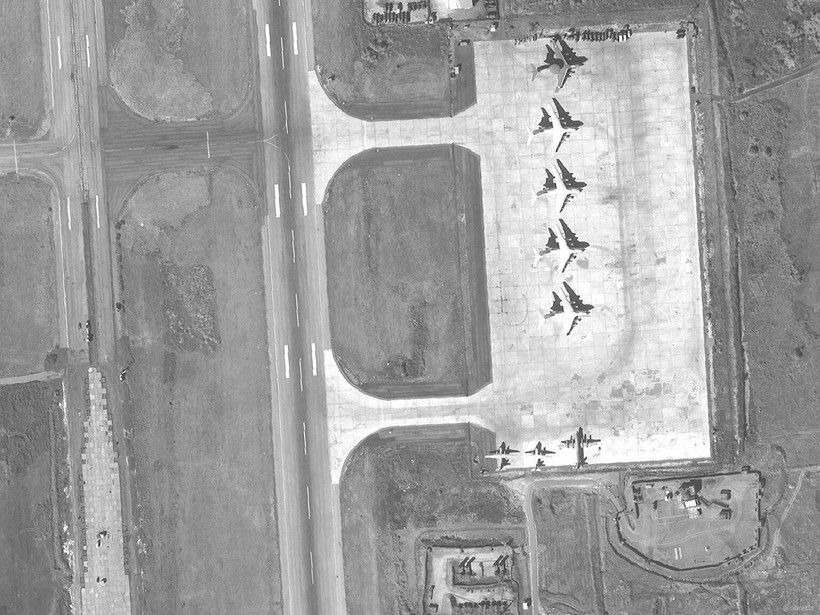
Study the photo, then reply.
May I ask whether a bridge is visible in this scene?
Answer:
No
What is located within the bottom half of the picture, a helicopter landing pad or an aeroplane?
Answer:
aeroplane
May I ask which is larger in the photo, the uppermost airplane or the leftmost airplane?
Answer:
the uppermost airplane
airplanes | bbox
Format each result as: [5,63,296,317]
[525,103,581,157]
[536,287,592,341]
[529,165,585,219]
[521,444,552,472]
[529,39,585,93]
[531,225,587,279]
[557,431,597,471]
[485,445,516,472]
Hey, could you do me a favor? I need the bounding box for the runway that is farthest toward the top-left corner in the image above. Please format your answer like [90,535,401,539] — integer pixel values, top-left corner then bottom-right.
[30,0,114,364]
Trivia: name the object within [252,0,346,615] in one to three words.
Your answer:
runway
